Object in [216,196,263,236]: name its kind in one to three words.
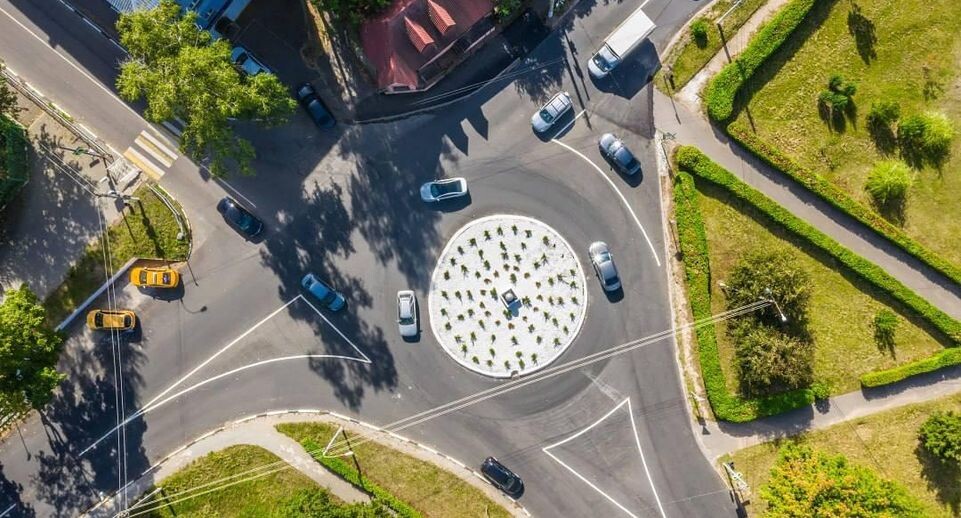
car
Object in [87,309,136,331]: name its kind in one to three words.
car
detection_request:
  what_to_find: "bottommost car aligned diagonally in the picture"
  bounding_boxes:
[480,457,523,497]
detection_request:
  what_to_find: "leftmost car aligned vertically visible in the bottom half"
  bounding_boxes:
[396,291,418,335]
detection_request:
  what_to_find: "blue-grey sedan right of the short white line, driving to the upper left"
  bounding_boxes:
[601,131,641,175]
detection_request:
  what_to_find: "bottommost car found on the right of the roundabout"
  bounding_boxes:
[589,241,619,290]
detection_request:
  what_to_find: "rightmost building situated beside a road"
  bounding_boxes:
[360,0,539,99]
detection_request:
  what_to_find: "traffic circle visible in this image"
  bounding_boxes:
[429,217,588,377]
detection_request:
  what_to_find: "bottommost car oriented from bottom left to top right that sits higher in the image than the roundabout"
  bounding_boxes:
[530,92,574,131]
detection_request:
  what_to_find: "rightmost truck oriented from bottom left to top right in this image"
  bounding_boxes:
[593,6,658,71]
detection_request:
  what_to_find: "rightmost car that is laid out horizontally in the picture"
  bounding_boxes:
[419,179,466,201]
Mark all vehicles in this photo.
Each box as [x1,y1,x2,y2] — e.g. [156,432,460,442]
[601,131,641,175]
[419,179,466,201]
[216,196,263,236]
[297,82,337,129]
[593,6,658,71]
[228,44,271,82]
[480,457,523,497]
[131,266,180,288]
[530,92,574,131]
[396,291,418,335]
[87,309,136,331]
[589,241,619,290]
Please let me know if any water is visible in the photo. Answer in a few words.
No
